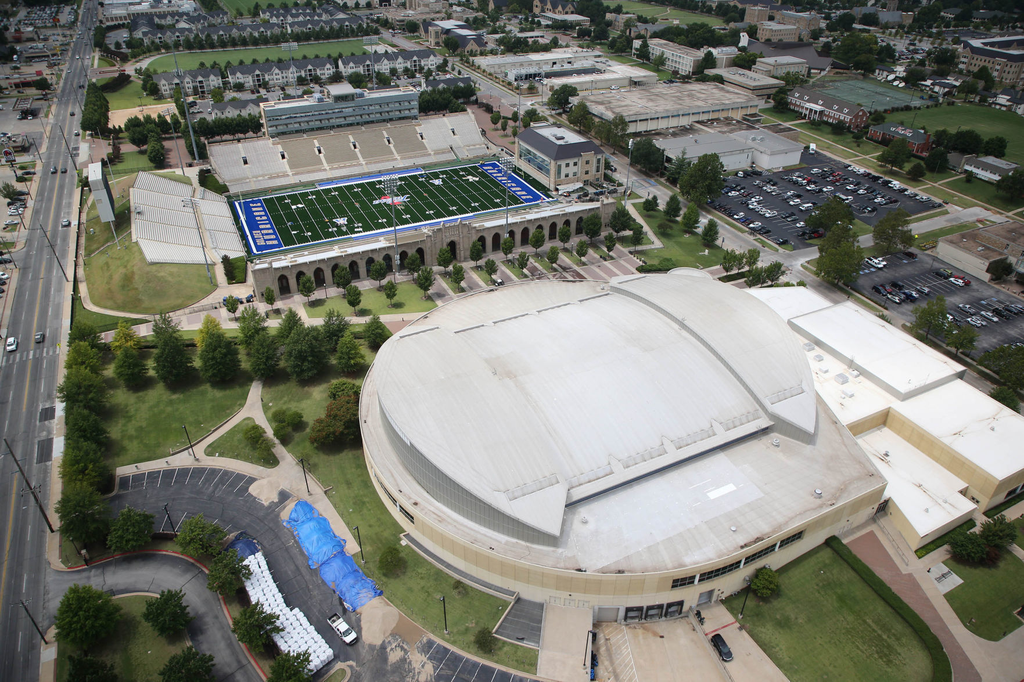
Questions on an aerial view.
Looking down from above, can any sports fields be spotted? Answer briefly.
Yes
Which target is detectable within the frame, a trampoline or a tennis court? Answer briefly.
tennis court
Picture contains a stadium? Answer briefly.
Yes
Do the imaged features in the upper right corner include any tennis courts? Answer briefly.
Yes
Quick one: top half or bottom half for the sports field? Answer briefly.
top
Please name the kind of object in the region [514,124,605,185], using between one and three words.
building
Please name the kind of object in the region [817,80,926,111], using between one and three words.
tennis court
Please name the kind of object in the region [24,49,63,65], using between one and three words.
building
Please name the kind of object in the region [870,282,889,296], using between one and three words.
vehicle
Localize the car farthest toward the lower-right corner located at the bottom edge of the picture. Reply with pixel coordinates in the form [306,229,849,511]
[713,635,732,664]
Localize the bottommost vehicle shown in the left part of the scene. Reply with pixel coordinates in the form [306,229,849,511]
[329,614,358,646]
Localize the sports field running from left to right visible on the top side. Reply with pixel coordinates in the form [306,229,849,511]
[228,159,569,256]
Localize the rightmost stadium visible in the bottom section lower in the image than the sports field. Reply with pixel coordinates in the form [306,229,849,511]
[359,264,888,621]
